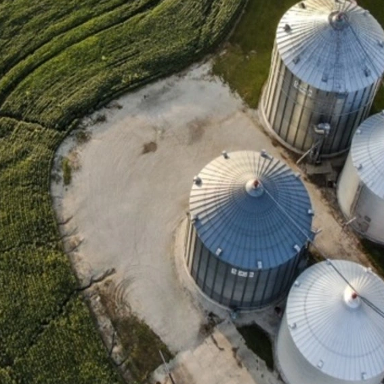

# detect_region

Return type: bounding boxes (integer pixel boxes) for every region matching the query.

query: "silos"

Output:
[178,149,316,313]
[335,110,384,245]
[272,259,384,384]
[260,0,384,157]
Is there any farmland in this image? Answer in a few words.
Yes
